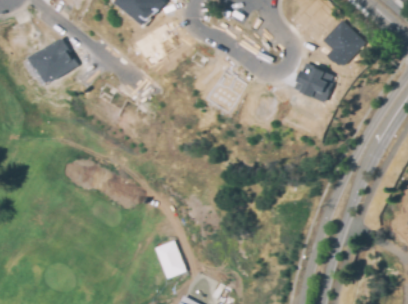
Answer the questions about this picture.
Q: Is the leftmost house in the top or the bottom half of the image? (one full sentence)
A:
Seen from above, the leftmost house lies in the top half of the view.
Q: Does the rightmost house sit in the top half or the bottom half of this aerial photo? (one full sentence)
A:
You can find the rightmost house in the top half.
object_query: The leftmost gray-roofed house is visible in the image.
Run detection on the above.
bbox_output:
[30,38,82,82]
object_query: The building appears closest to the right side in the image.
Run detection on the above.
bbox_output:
[326,20,369,64]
